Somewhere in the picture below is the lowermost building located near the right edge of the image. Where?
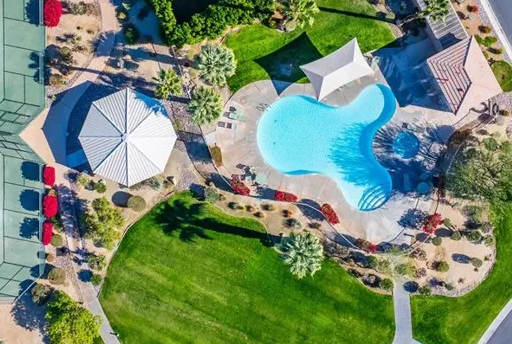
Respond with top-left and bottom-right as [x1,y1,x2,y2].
[423,35,502,114]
